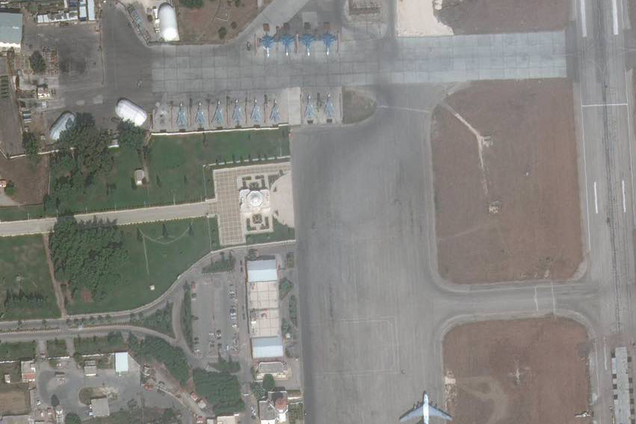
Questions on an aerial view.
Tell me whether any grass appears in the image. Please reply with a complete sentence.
Yes, grass shows up in the scene.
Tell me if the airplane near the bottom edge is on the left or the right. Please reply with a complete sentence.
You can find the airplane near the bottom edge on the right side of the picture.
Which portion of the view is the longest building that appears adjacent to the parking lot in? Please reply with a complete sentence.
The longest building that appears adjacent to the parking lot appears toward the bottom of the photo.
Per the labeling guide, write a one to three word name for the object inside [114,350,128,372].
building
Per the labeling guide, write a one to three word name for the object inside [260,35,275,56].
airplane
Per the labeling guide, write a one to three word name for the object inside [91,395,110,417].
building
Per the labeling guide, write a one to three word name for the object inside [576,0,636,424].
runway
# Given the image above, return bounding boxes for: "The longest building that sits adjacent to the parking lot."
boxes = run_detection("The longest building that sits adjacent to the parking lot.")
[247,258,284,363]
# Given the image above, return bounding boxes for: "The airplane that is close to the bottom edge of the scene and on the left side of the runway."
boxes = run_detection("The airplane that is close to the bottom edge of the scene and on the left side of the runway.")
[401,394,452,424]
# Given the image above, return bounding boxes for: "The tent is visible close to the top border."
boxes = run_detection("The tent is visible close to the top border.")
[158,7,178,43]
